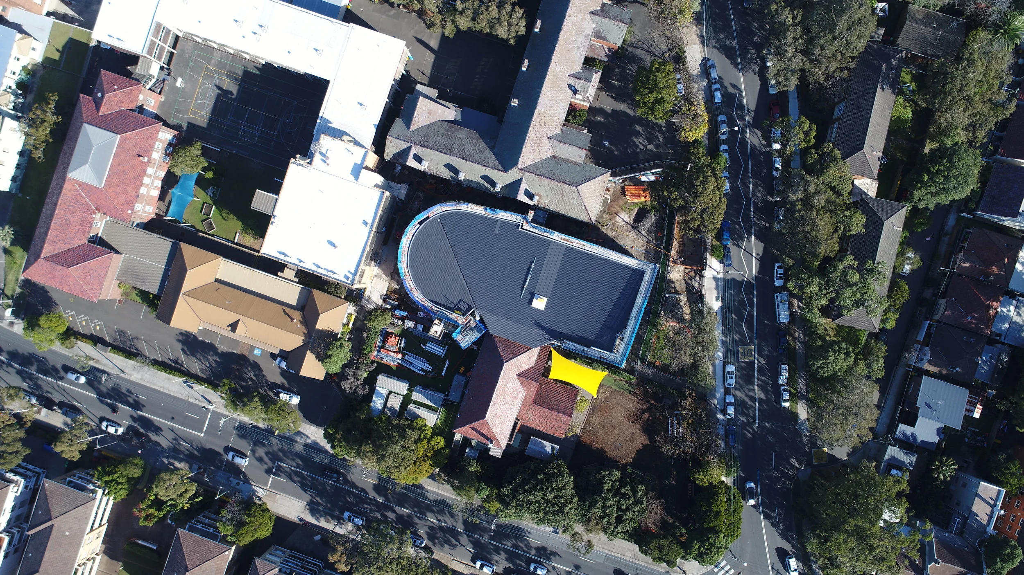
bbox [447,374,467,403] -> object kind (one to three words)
shed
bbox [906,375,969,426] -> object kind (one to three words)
house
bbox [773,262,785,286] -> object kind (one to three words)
vehicle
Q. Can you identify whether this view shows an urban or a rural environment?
urban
